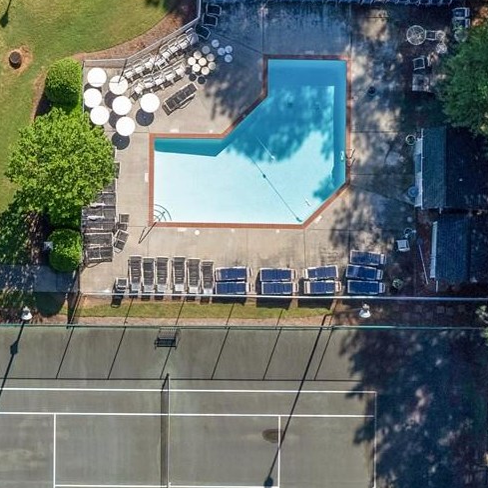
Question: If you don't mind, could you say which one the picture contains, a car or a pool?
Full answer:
The image shows a pool.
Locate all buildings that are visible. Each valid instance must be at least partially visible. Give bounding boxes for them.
[431,219,488,289]
[415,126,487,214]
